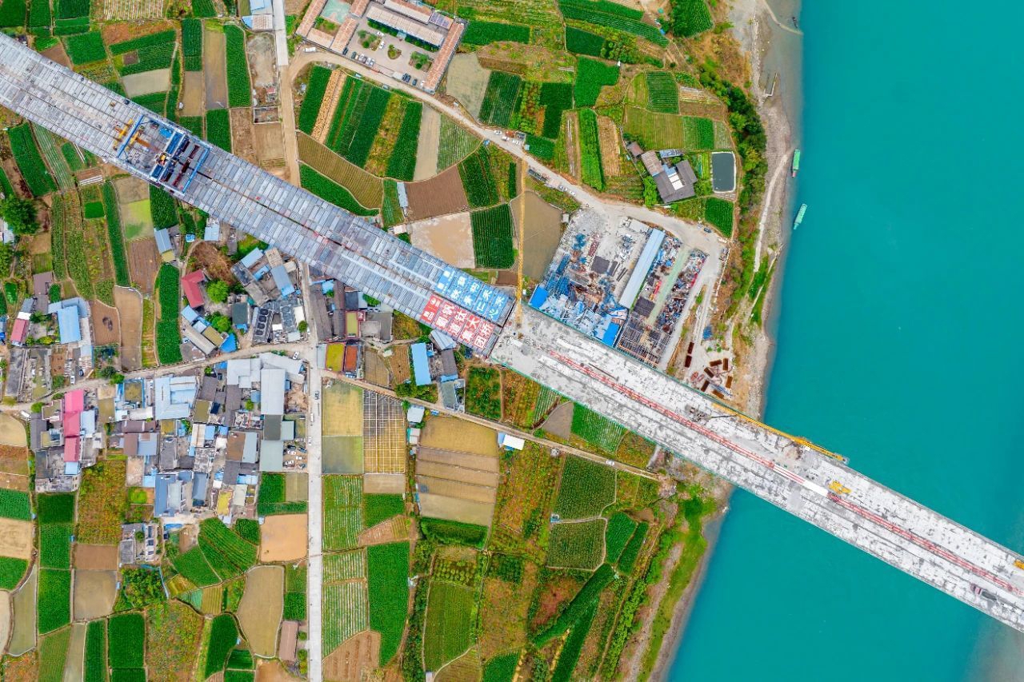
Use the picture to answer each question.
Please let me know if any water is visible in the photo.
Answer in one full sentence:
Yes, the picture does contain water.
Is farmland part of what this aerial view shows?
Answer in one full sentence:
Yes, farmland can be seen from above here.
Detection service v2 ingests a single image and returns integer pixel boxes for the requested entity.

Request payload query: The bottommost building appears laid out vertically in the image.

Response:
[279,620,299,662]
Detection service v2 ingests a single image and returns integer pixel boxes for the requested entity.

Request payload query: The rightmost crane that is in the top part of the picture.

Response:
[514,156,526,345]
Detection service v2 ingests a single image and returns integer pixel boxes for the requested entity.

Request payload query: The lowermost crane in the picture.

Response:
[714,403,847,463]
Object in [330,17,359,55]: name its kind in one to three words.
building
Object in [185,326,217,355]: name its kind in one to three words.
barn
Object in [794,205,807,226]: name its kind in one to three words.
boat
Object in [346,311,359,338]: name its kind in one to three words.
house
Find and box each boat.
[793,150,801,175]
[794,205,807,226]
